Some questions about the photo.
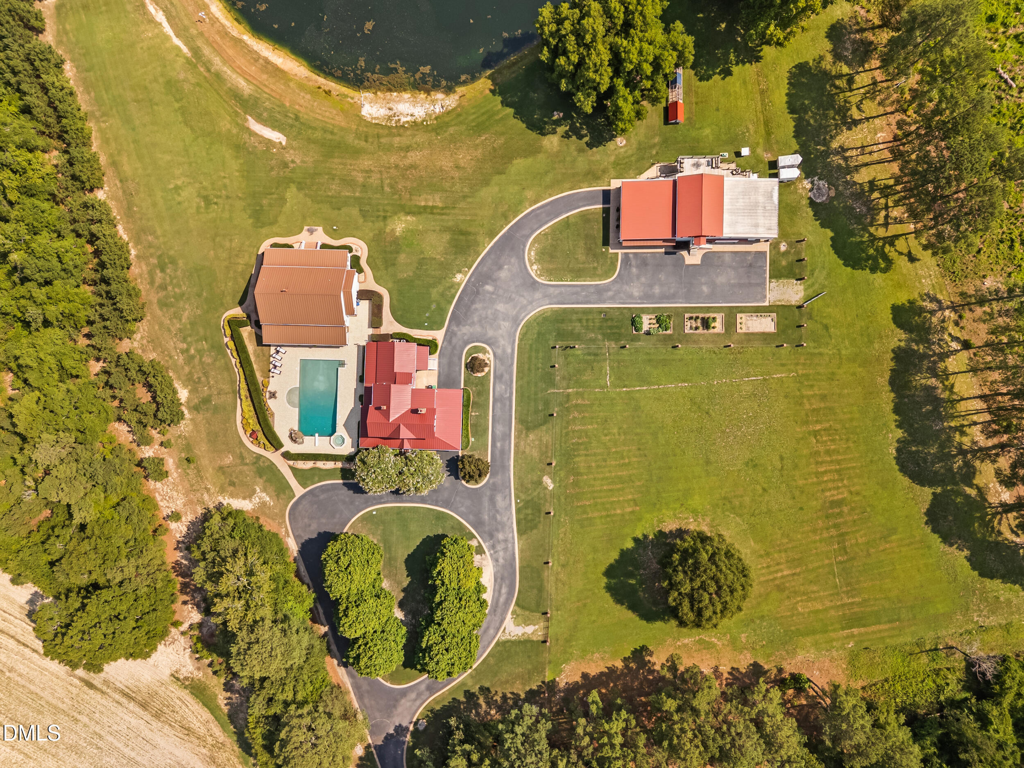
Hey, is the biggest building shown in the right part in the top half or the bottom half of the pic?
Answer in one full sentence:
It is in the top half that the biggest building shown in the right part appears.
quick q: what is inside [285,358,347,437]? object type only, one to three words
swimming pool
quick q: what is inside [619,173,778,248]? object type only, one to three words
building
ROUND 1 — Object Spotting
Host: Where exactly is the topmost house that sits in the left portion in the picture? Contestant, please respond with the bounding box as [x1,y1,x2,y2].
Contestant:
[254,248,360,346]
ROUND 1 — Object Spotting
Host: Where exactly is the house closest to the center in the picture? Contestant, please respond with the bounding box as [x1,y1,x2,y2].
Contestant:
[359,342,463,451]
